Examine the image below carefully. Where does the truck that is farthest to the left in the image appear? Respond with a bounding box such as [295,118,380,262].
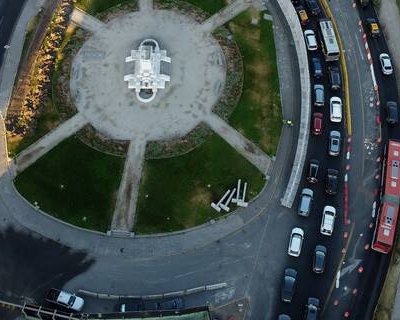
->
[45,287,84,314]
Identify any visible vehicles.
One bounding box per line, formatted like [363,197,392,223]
[359,0,369,7]
[386,100,399,125]
[298,8,311,25]
[329,68,341,89]
[287,228,304,259]
[307,159,321,185]
[297,187,315,218]
[313,113,324,135]
[314,84,327,108]
[306,32,317,51]
[374,139,400,264]
[321,17,340,61]
[45,287,84,314]
[311,243,329,275]
[305,0,320,15]
[329,131,343,157]
[366,19,382,39]
[320,206,337,236]
[280,269,298,303]
[311,58,324,77]
[325,170,339,195]
[381,54,392,74]
[331,99,342,121]
[305,295,322,320]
